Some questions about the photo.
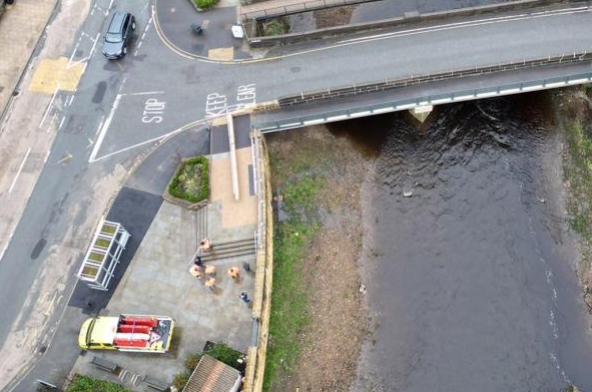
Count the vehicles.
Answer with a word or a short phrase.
2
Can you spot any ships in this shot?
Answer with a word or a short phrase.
No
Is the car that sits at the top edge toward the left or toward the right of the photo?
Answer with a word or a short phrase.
left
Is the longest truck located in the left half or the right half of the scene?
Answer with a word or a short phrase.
left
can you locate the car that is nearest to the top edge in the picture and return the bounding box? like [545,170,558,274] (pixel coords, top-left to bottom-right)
[97,7,138,59]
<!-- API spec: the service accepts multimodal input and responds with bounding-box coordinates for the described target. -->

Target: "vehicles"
[71,309,172,355]
[97,7,138,59]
